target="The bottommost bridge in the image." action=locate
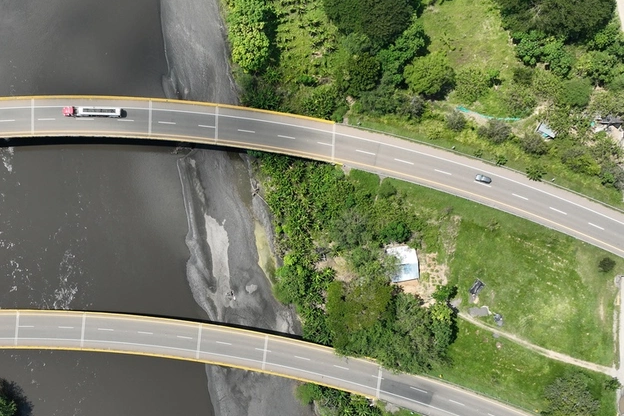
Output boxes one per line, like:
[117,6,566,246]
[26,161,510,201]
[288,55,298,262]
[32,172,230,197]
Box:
[0,310,386,400]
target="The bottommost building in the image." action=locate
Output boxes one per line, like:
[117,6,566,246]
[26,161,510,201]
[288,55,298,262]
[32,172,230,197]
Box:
[386,248,419,283]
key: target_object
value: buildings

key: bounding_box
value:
[386,248,419,283]
[594,117,623,135]
[533,120,556,139]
